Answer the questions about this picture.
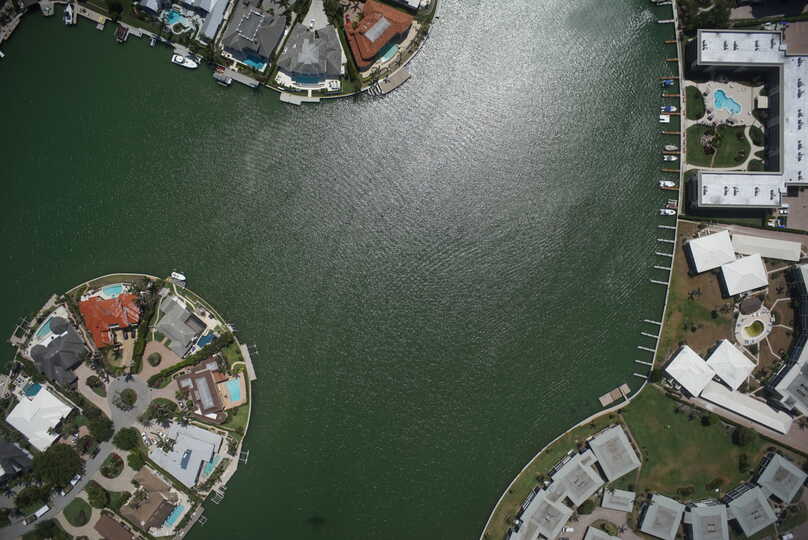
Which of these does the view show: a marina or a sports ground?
marina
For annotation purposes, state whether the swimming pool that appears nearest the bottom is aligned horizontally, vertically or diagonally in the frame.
diagonally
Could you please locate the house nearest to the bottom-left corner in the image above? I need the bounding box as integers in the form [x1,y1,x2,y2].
[0,441,37,475]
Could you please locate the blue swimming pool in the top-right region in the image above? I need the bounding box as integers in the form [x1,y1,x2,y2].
[714,88,742,113]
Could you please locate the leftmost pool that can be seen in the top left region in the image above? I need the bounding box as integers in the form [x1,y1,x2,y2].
[167,10,185,24]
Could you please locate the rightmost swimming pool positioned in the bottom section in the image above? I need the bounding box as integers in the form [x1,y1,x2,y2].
[744,320,765,337]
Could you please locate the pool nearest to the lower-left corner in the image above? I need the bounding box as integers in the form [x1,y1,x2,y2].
[23,383,42,397]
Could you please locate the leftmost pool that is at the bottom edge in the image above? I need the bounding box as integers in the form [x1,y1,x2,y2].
[164,504,185,528]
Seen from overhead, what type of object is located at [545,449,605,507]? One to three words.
building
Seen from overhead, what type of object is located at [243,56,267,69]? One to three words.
swimming pool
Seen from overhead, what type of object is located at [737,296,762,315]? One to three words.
gazebo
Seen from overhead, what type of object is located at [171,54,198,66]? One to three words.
boat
